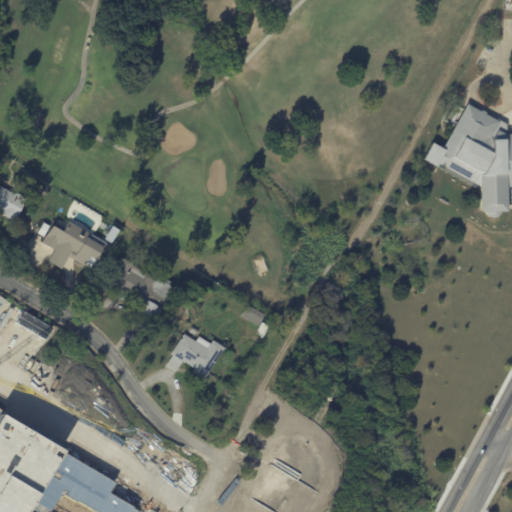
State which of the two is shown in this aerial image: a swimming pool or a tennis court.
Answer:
swimming pool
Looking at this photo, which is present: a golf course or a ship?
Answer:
golf course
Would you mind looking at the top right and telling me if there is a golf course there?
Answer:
No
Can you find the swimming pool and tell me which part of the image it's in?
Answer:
left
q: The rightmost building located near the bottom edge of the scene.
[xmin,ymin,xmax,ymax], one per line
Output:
[40,454,150,512]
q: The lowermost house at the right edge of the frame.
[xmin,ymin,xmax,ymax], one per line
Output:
[426,102,512,218]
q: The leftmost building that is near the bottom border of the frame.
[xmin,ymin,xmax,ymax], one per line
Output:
[0,414,70,512]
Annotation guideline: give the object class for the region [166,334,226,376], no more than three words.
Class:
house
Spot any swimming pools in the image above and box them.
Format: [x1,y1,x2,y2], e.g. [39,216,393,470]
[67,201,102,231]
